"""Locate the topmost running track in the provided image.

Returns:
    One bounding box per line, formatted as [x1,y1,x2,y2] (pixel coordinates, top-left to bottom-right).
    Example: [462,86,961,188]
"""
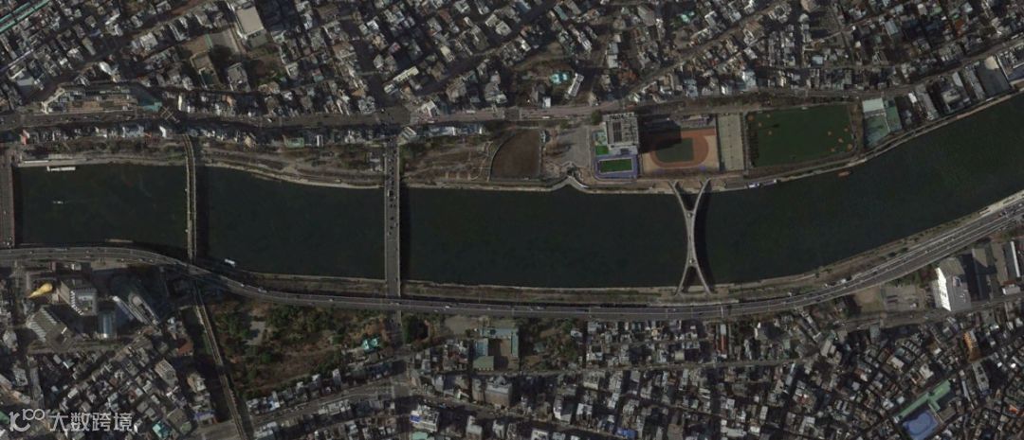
[638,114,719,179]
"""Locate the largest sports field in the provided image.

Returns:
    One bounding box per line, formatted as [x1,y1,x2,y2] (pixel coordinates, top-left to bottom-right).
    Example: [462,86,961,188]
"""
[492,130,541,179]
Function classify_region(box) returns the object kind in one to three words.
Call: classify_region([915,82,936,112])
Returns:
shed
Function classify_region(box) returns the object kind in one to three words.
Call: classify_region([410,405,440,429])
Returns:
building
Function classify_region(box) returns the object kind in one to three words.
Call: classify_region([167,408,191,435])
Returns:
building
